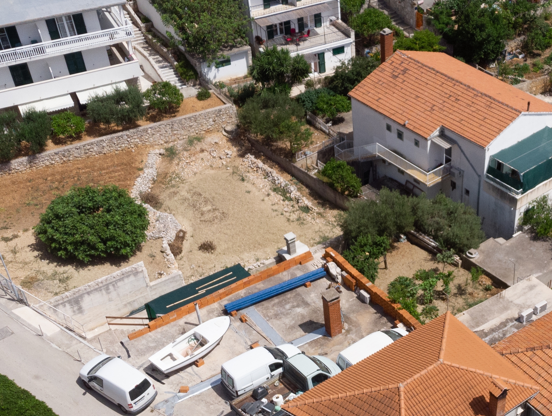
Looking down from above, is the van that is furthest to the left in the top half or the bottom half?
bottom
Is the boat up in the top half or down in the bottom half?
bottom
